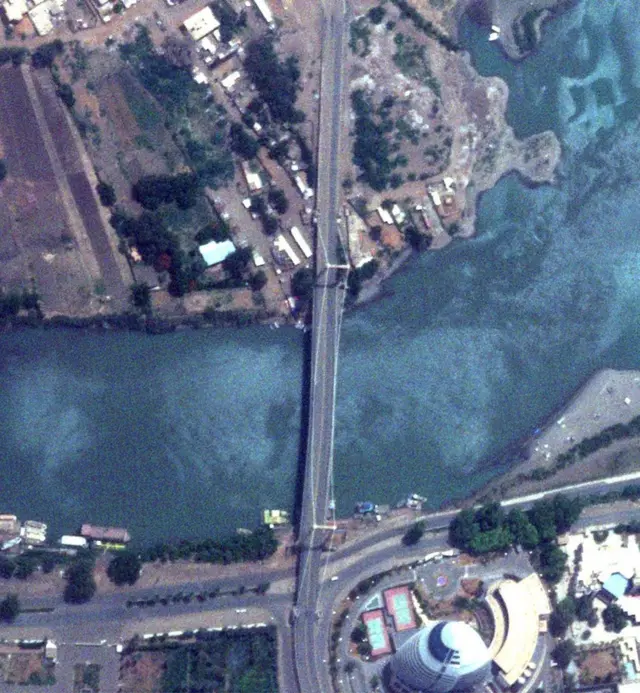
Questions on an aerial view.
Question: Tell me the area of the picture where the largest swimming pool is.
bottom right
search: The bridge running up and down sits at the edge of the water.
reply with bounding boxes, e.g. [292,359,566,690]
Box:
[293,0,350,693]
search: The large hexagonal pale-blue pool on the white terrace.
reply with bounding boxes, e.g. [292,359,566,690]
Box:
[603,573,628,598]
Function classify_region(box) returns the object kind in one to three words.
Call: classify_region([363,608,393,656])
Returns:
tennis court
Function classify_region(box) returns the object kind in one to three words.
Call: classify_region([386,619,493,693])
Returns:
building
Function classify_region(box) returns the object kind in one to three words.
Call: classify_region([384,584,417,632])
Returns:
tennis court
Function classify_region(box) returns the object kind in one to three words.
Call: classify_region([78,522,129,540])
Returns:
ship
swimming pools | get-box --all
[603,573,628,598]
[626,665,635,679]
